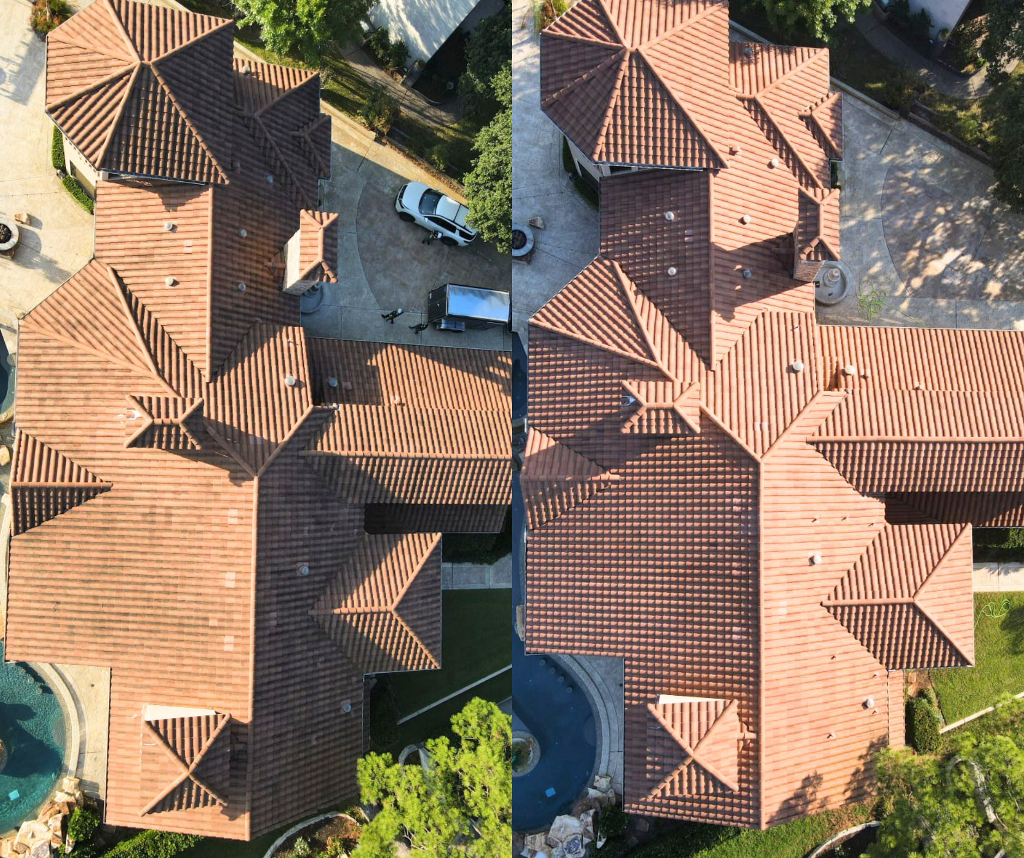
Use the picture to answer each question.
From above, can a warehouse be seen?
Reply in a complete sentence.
No, no warehouse is visible in the view.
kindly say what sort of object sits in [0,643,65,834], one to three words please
swimming pool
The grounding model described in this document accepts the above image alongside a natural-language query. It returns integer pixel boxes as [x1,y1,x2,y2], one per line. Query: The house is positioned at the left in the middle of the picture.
[3,0,514,843]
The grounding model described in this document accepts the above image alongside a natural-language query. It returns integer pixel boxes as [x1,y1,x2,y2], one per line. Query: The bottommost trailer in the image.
[414,278,509,326]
